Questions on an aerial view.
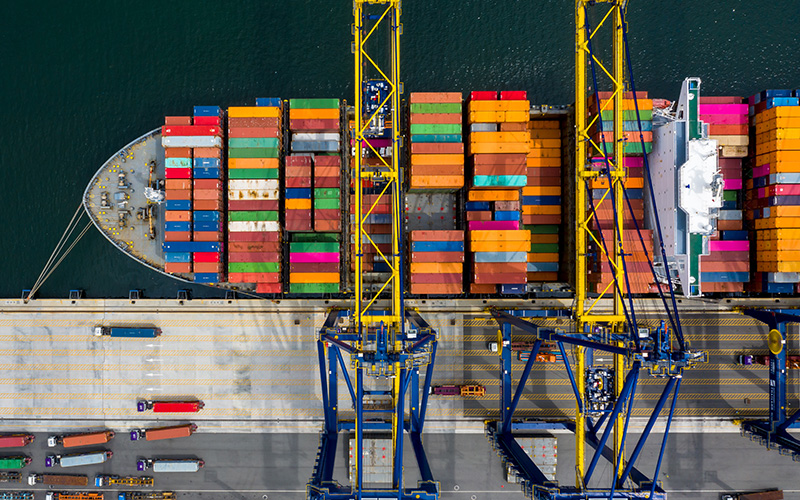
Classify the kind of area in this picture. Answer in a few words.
port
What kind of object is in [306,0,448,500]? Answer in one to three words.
container crane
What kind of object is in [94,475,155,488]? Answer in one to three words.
vehicle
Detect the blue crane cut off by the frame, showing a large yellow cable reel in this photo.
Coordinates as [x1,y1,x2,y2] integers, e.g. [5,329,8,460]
[733,307,800,457]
